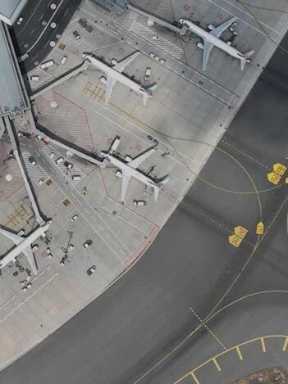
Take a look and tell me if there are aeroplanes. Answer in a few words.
Yes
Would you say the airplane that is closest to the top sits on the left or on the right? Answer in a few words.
right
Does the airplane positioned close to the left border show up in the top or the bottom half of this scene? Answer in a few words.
bottom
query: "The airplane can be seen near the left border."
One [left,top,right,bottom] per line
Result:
[0,220,51,280]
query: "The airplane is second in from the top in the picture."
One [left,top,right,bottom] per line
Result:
[84,50,159,105]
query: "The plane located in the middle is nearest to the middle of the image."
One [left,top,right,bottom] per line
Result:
[104,146,170,204]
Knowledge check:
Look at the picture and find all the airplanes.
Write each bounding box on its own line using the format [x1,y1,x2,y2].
[84,50,159,105]
[104,146,170,204]
[0,220,51,280]
[181,14,258,70]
